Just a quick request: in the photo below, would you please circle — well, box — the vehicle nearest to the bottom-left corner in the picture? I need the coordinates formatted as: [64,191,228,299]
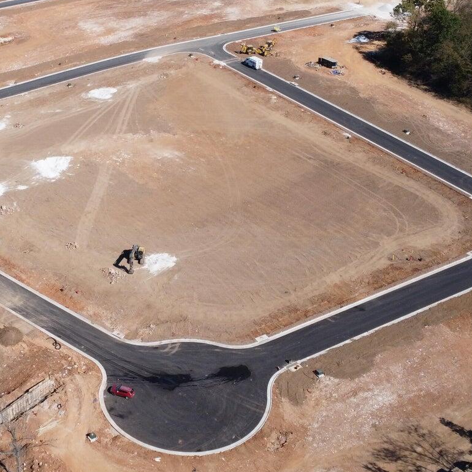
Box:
[109,385,134,398]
